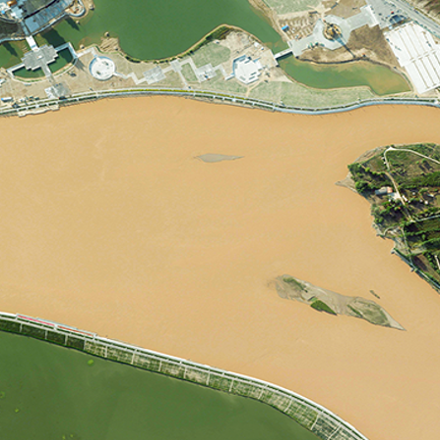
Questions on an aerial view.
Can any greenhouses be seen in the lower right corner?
No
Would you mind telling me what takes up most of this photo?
water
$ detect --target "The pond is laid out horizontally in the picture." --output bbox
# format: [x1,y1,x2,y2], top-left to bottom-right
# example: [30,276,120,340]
[279,57,411,95]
